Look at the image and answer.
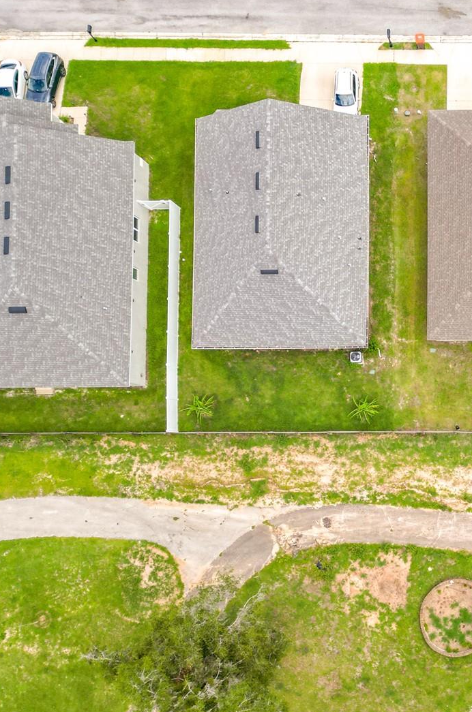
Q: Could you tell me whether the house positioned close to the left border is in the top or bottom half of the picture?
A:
top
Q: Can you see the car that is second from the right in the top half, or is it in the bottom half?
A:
top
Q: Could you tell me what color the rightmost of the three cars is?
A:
white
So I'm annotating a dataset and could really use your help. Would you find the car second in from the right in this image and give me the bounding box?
[23,52,67,112]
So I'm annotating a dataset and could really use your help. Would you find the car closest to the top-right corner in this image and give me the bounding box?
[333,67,363,115]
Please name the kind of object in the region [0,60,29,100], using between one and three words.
car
